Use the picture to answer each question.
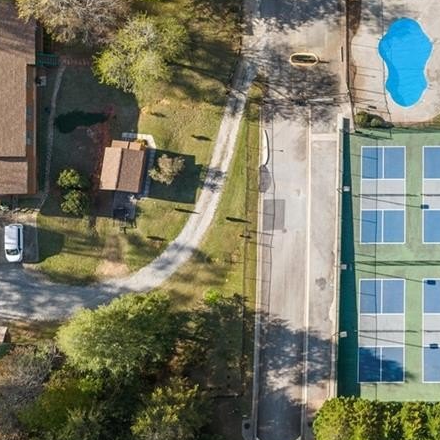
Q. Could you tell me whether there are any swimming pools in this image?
Yes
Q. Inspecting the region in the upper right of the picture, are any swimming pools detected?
Yes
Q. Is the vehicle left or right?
left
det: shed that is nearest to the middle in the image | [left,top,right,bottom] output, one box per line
[102,139,152,192]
